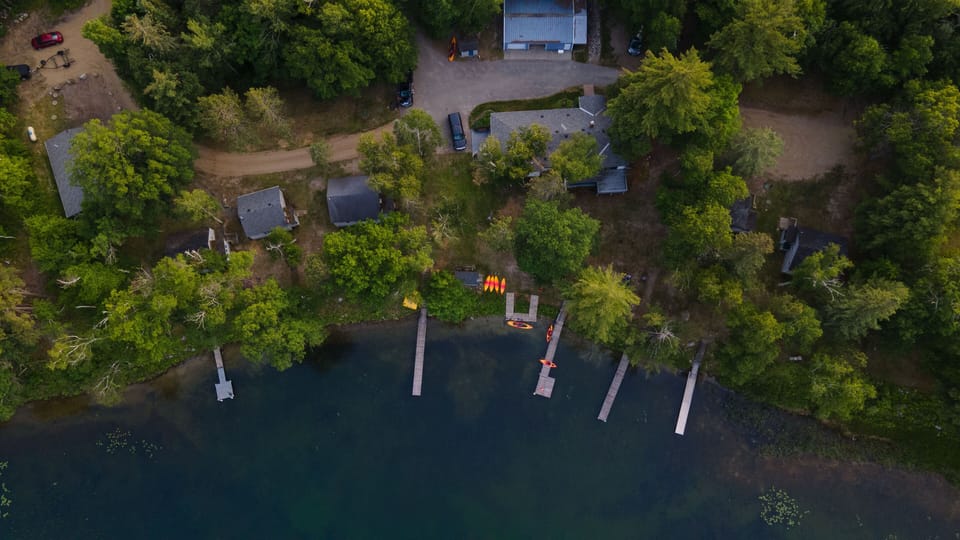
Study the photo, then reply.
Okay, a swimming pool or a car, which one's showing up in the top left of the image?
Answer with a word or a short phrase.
car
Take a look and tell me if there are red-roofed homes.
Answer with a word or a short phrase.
No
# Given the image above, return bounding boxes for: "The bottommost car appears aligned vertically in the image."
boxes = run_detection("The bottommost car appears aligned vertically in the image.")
[447,109,467,150]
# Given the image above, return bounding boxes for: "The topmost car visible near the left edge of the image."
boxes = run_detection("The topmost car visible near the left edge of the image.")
[26,28,63,49]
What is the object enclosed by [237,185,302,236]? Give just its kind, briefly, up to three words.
house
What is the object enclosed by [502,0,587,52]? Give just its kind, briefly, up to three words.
building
